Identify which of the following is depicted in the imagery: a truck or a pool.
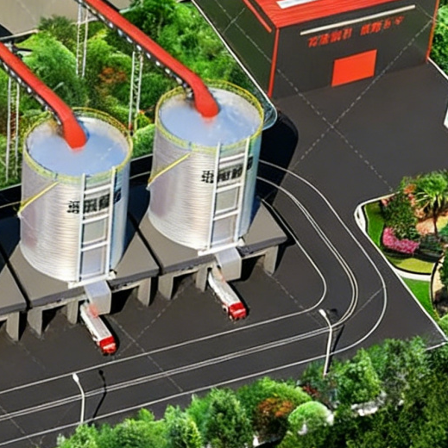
truck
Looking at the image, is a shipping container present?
No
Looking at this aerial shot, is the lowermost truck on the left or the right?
left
